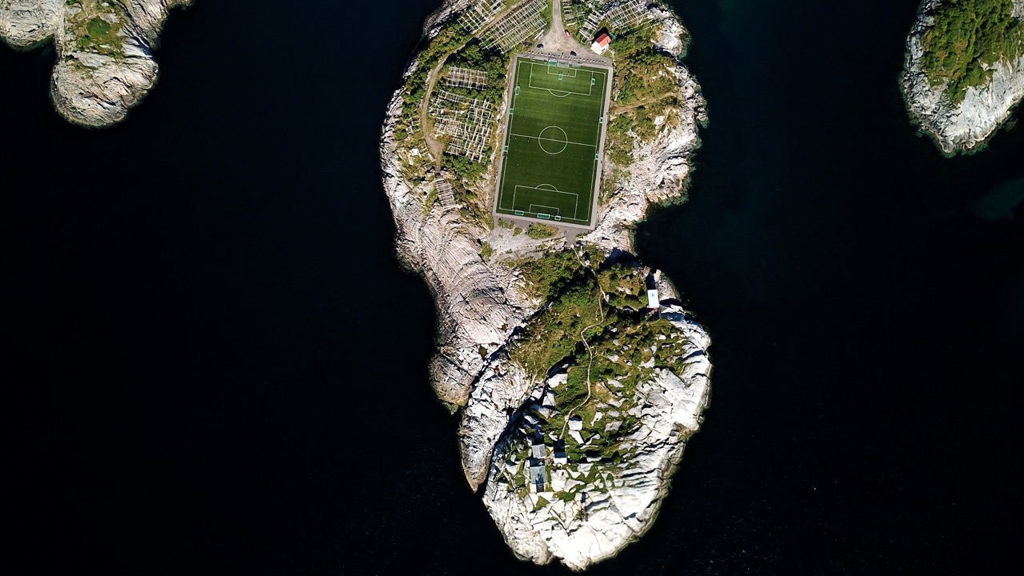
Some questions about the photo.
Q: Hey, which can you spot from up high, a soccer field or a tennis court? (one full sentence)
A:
I can see a soccer field in this picture.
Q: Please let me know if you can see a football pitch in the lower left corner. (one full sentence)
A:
No, no football pitch is visible in the lower left corner.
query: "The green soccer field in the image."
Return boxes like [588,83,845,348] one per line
[492,54,613,229]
